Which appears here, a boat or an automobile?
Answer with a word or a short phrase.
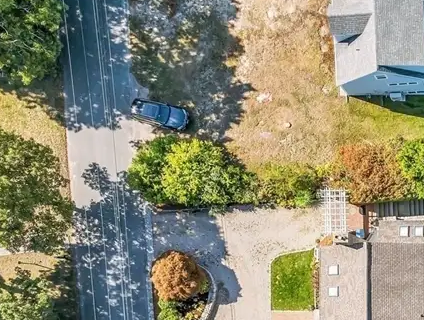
automobile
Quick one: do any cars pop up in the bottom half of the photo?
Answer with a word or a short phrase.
No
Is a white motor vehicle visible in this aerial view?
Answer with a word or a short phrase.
No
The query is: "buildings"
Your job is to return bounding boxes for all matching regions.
[310,215,424,320]
[329,0,424,92]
